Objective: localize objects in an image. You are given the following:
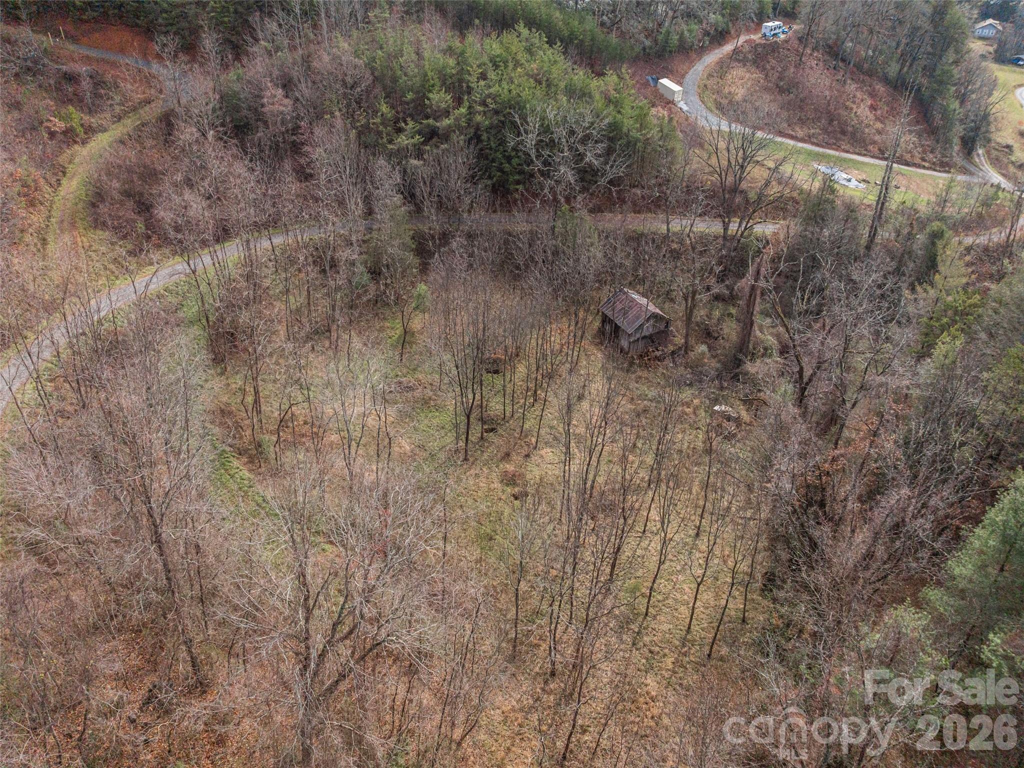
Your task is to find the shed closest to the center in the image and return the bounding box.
[596,289,672,359]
